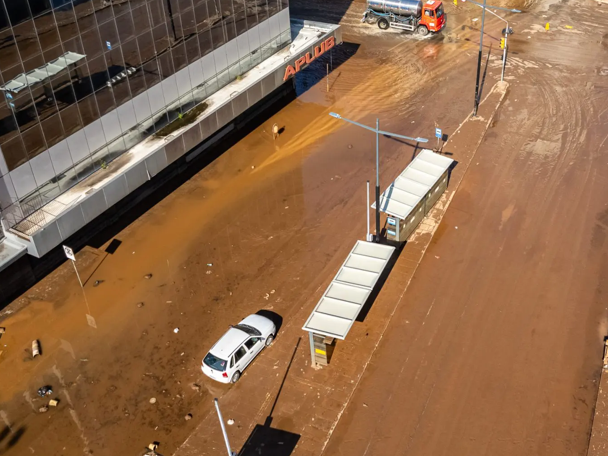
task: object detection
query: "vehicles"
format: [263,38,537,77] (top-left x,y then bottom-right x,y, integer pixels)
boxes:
[357,0,447,36]
[193,314,277,390]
